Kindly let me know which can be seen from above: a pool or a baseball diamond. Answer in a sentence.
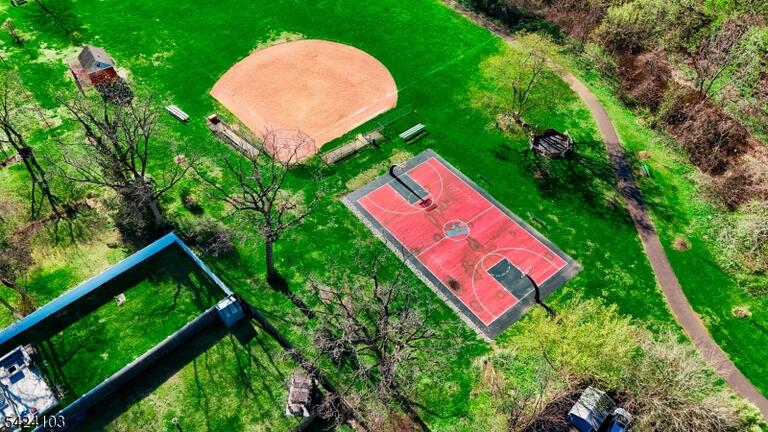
Visible in the photo is a baseball diamond.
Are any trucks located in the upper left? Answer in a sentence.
No, I see no truck in the upper left.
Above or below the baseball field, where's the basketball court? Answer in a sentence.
Looking at the photo, you'll find the basketball court below the baseball field.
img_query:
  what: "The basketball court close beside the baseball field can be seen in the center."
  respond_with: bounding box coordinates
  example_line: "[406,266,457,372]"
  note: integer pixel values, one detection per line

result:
[343,150,582,342]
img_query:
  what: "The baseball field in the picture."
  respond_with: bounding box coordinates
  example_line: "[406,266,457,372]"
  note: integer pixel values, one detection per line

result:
[196,39,488,165]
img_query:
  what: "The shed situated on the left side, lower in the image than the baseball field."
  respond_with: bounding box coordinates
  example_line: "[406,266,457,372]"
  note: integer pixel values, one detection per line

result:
[214,291,246,326]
